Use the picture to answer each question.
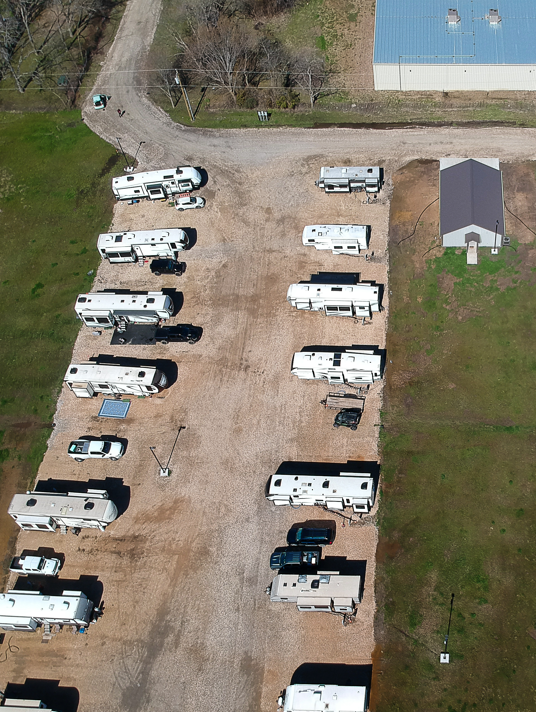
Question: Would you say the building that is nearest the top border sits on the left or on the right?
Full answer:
The building that is nearest the top border appears in the right half of the scene.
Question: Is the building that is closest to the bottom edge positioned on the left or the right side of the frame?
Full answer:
The building that is closest to the bottom edge sits on the right side.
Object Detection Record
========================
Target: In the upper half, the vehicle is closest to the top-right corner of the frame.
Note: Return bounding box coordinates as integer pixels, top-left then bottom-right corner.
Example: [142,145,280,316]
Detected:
[312,167,383,195]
